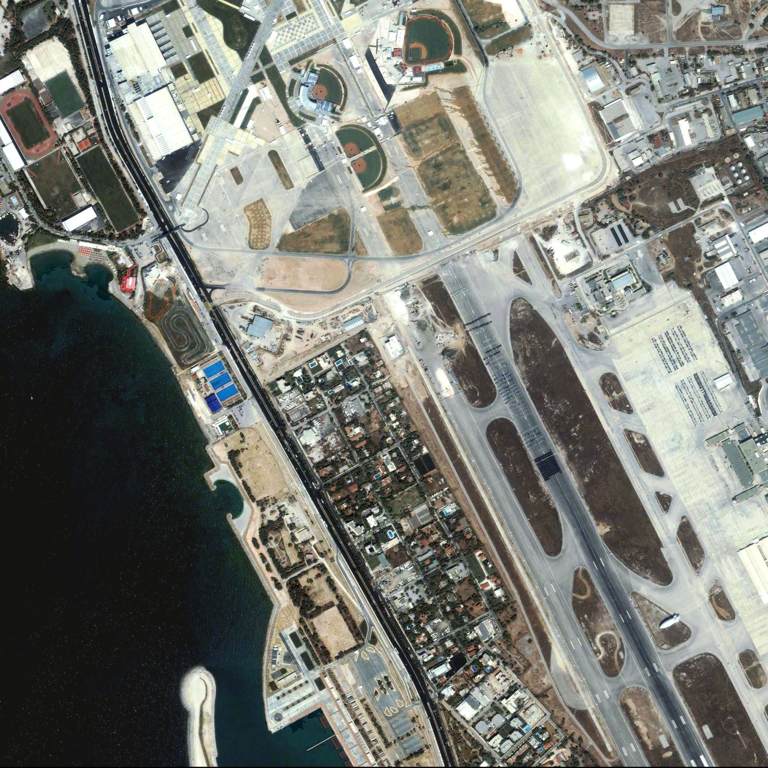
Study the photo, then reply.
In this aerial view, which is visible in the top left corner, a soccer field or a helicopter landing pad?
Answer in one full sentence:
The one visible in the top left corner is a soccer field.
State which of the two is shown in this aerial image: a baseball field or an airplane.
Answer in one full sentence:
The one in the frame is a baseball field.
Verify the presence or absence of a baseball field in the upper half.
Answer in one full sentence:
Yes, you'll find a baseball field in the upper half.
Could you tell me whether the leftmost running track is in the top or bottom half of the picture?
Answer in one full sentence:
Seen from above, the leftmost running track lies in the top half of the view.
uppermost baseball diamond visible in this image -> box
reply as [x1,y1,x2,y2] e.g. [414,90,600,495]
[404,15,455,67]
